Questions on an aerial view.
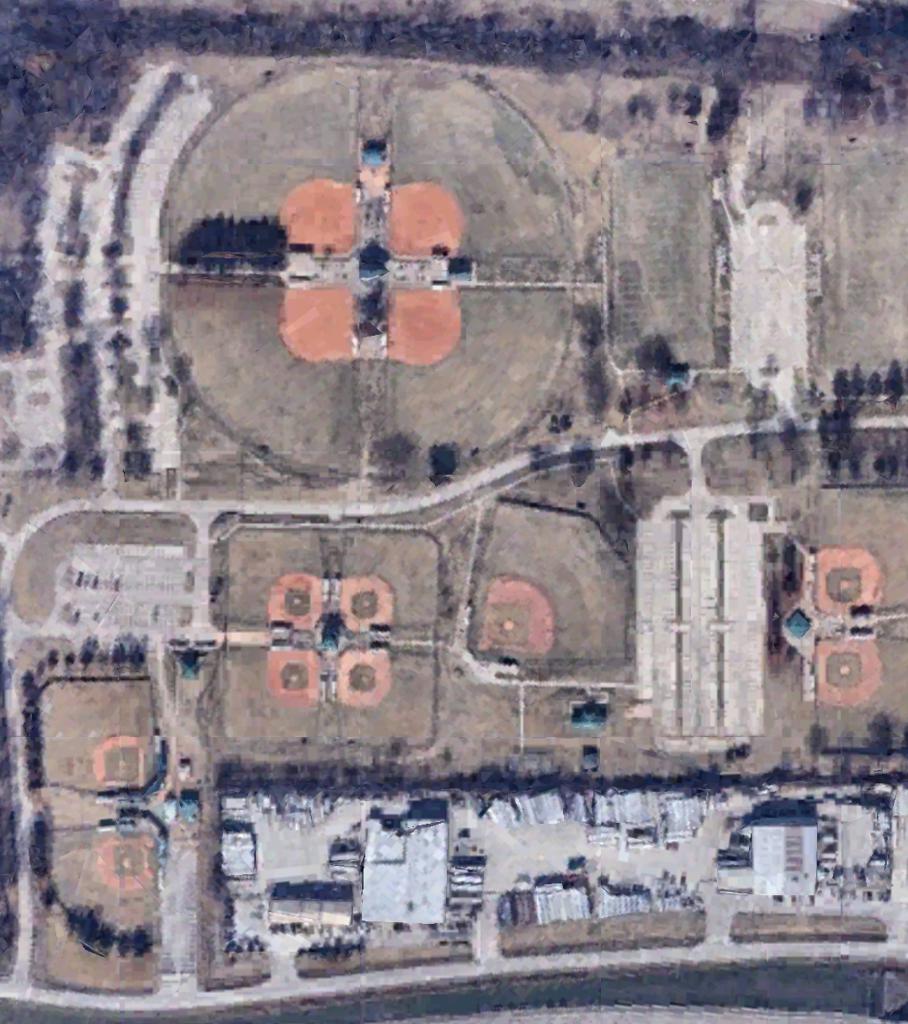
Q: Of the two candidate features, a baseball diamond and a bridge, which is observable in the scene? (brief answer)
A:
baseball diamond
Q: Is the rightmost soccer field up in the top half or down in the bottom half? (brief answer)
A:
top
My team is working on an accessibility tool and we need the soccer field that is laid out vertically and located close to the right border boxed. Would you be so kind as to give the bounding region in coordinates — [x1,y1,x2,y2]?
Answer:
[823,157,908,366]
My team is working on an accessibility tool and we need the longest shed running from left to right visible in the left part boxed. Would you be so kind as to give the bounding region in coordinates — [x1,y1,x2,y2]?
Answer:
[269,896,353,925]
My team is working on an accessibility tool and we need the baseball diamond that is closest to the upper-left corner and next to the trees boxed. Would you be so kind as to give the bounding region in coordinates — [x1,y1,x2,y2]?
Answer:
[166,70,360,259]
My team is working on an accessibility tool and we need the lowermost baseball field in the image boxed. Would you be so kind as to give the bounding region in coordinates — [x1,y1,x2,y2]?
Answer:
[472,502,637,661]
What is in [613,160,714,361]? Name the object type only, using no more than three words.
soccer field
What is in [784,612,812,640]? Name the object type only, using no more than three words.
building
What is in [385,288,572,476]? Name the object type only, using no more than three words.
baseball field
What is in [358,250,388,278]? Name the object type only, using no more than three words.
building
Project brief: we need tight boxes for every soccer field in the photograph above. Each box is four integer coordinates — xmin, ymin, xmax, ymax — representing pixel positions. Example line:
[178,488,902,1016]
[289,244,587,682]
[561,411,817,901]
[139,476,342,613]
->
[613,160,714,361]
[823,157,908,366]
